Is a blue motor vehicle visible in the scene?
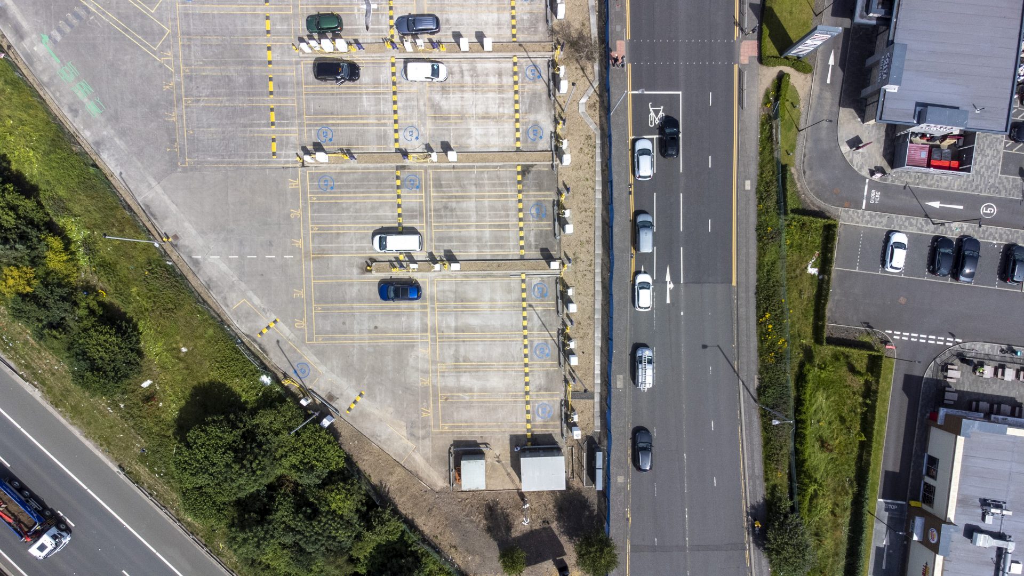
Yes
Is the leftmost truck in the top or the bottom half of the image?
bottom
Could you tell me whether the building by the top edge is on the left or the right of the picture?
right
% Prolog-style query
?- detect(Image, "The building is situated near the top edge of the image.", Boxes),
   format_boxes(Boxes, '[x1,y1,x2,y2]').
[852,0,1024,136]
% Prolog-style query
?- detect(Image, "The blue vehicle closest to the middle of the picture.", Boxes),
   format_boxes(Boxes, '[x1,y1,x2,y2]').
[379,281,422,302]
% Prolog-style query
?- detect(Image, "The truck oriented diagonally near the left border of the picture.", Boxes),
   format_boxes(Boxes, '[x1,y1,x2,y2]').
[0,475,73,558]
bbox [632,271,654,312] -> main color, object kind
white car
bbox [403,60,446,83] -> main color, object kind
white vehicle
